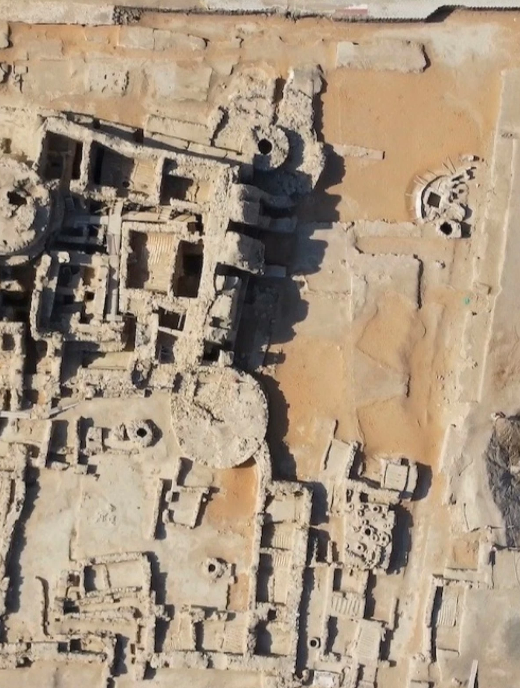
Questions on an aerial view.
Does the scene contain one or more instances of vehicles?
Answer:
No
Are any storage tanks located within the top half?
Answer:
No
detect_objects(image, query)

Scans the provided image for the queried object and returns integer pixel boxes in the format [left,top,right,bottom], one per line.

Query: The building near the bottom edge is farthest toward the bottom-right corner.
[300,535,396,688]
